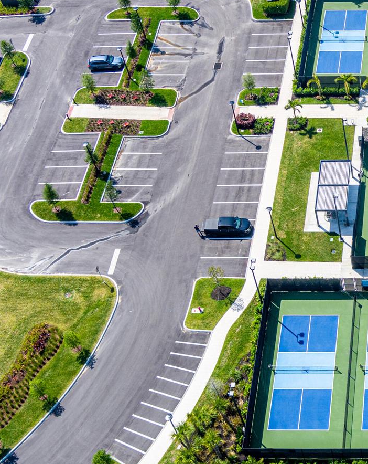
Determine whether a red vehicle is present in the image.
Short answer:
No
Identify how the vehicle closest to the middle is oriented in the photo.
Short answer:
from side to side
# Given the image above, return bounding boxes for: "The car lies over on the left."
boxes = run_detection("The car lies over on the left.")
[86,56,126,73]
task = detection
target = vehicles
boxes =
[86,56,126,73]
[200,217,254,238]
